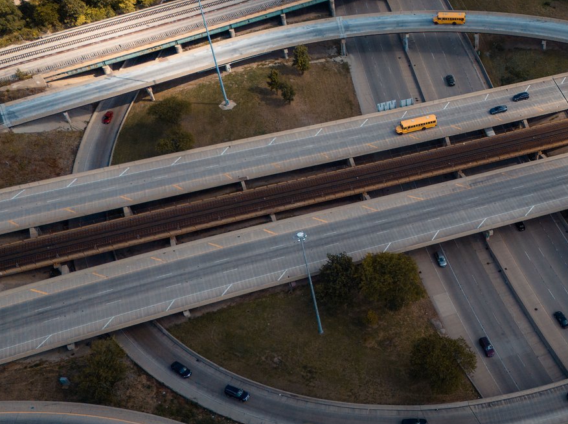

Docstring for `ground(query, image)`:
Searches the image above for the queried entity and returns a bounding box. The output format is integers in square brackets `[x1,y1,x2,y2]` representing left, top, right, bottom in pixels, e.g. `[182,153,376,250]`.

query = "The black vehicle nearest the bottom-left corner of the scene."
[170,361,191,377]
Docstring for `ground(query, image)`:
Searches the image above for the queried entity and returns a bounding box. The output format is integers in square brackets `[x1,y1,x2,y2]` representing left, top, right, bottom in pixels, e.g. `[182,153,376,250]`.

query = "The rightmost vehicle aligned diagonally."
[554,311,568,329]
